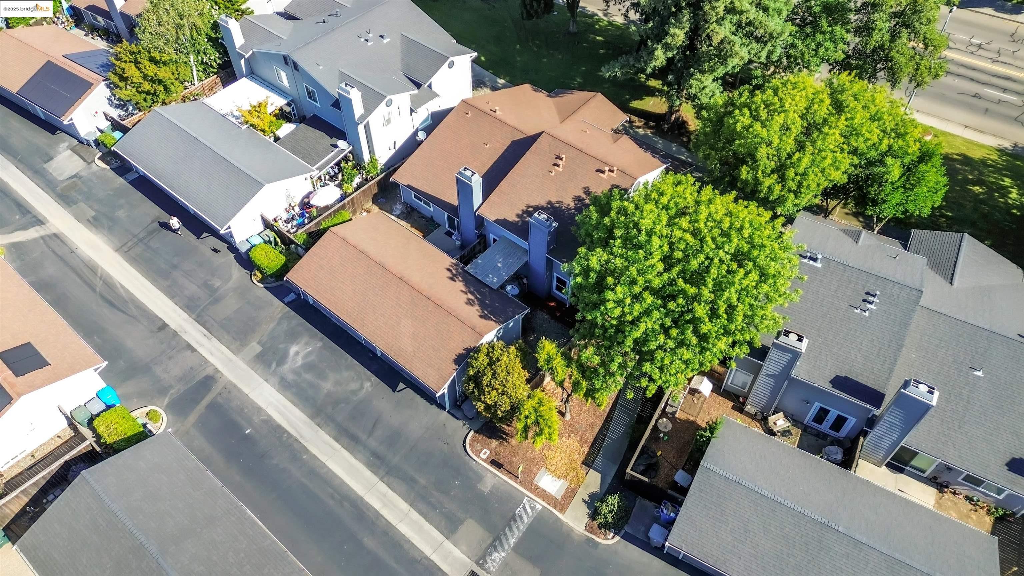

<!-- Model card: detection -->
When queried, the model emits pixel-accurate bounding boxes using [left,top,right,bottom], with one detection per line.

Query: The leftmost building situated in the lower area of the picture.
[0,251,112,470]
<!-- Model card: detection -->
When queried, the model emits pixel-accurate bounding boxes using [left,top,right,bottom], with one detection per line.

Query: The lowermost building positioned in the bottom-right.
[664,417,999,576]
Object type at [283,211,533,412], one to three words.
building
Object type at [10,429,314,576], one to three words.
building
